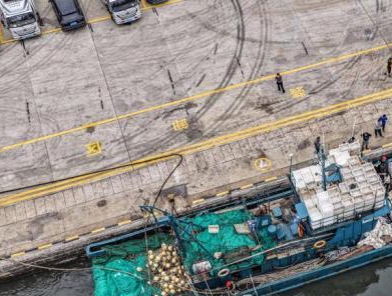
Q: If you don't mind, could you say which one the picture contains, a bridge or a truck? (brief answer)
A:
truck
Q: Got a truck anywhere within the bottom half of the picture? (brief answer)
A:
No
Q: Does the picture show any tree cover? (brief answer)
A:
No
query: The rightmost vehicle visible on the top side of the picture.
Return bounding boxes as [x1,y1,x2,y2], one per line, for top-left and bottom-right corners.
[99,0,138,26]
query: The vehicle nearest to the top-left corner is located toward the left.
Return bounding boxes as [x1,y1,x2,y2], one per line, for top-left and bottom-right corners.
[0,0,40,44]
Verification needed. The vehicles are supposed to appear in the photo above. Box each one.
[50,0,86,30]
[99,0,138,26]
[0,0,40,44]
